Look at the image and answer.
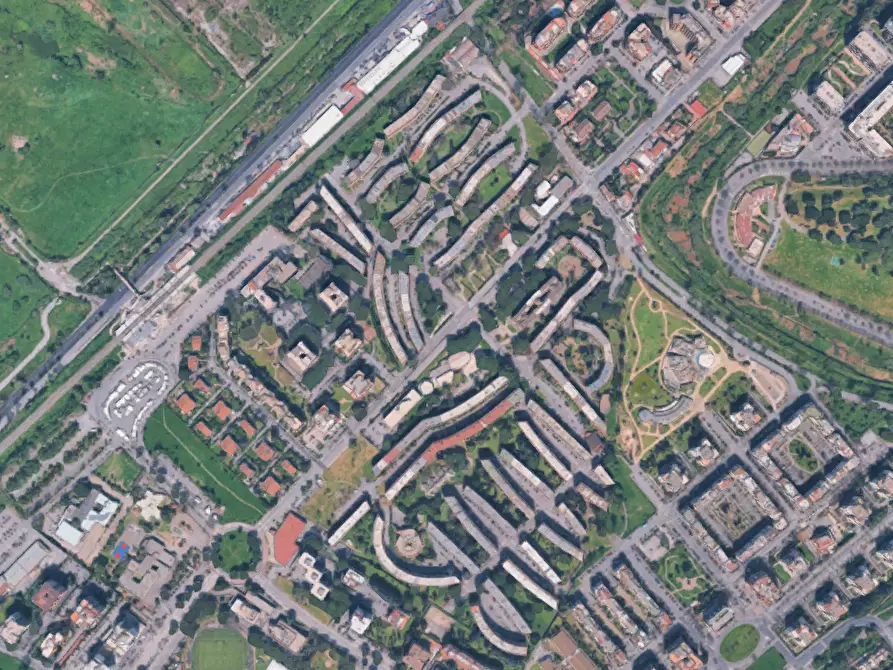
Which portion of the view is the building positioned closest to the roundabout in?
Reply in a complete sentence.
The building positioned closest to the roundabout is in the bottom right part of the image.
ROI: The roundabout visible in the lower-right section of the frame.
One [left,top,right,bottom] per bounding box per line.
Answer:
[720,624,760,661]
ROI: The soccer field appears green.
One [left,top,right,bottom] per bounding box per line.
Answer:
[186,623,254,670]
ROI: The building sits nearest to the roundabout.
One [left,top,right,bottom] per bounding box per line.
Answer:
[707,604,734,632]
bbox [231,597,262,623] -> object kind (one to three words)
building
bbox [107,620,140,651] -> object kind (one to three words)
house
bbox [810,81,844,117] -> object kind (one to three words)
building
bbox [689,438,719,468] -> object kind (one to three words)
house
